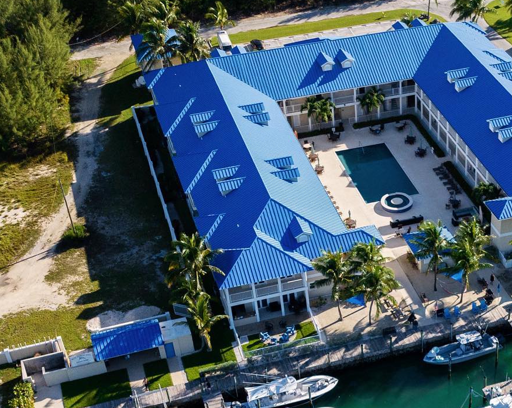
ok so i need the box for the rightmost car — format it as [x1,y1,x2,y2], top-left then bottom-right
[252,35,265,50]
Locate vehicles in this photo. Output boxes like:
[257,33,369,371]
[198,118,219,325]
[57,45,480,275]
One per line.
[215,25,233,50]
[252,35,265,50]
